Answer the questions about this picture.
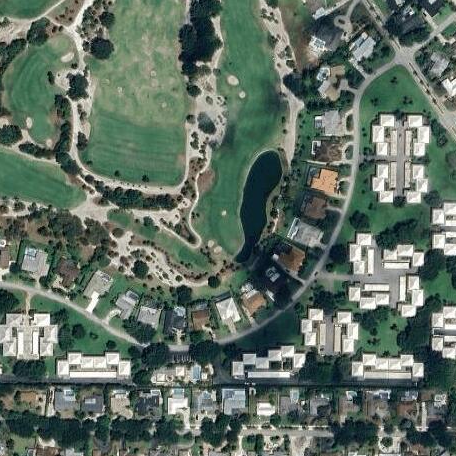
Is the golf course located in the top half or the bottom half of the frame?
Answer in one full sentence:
The golf course sits in the top half of the picture.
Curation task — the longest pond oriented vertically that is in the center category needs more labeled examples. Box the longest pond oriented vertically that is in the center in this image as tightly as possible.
[237,150,281,263]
